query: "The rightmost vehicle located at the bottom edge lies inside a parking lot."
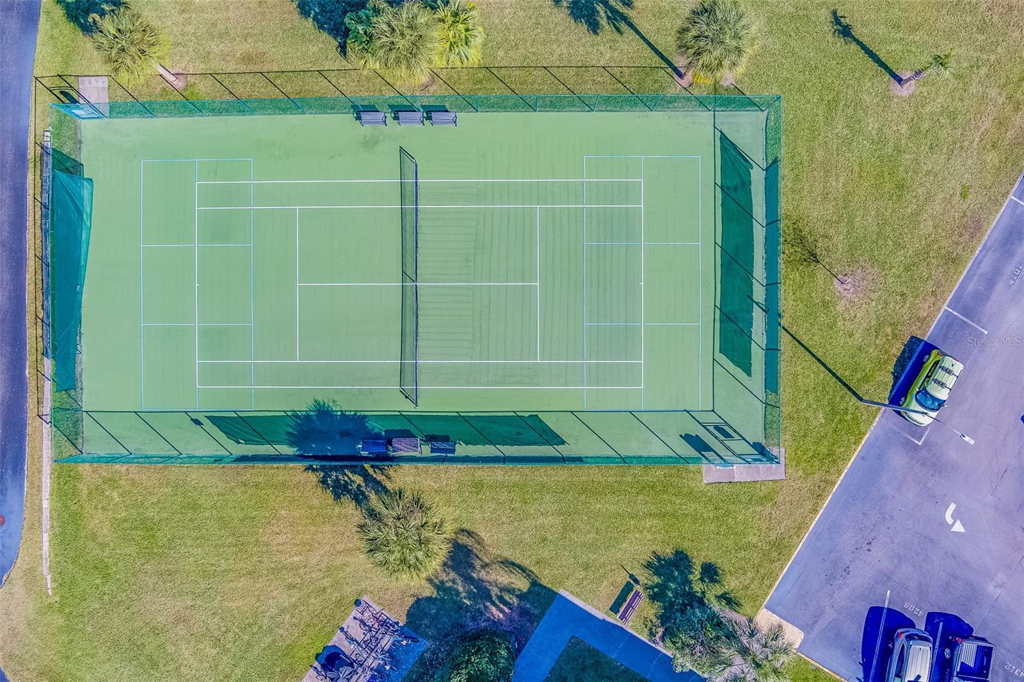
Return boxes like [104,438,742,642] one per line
[945,633,998,682]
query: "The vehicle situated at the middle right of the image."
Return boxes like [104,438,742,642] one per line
[899,346,968,429]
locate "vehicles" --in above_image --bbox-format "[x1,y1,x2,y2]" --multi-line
[899,346,968,429]
[883,627,937,682]
[945,633,998,682]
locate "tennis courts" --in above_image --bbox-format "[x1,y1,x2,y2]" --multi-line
[81,110,767,456]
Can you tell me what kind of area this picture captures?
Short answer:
sports ground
